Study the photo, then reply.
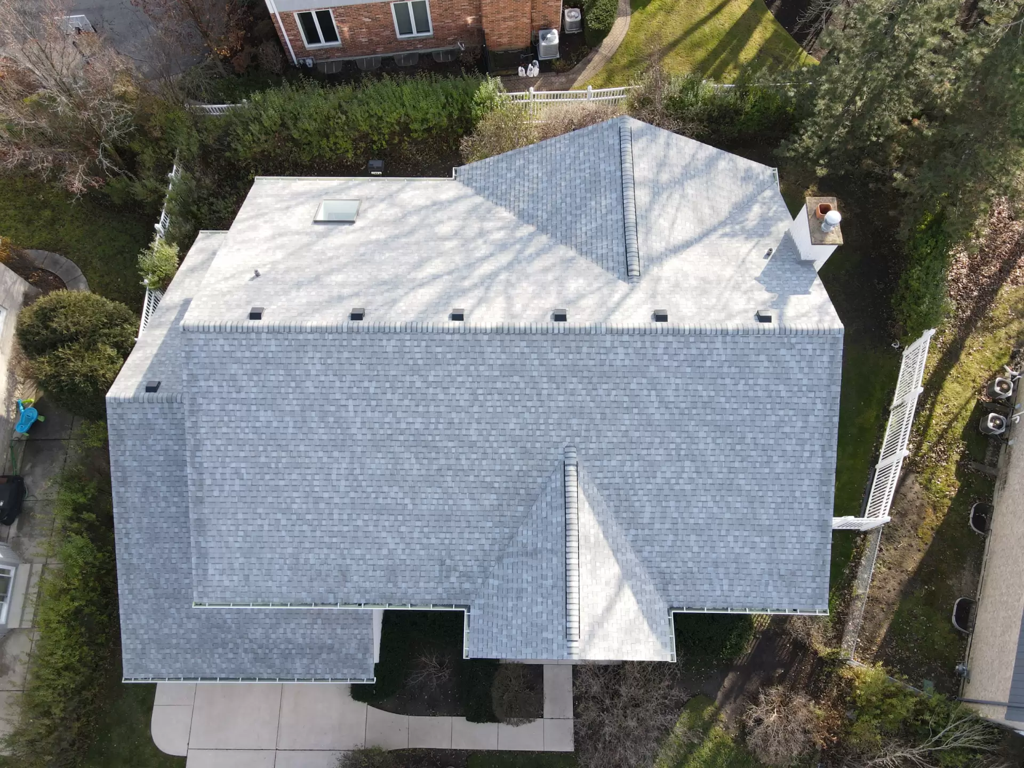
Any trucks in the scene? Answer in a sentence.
No, the frame has no truck in it.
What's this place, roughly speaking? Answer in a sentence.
What you see here is a residential area.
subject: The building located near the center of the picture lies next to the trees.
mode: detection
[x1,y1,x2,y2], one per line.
[105,117,846,685]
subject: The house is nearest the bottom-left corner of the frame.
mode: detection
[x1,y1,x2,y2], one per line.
[0,546,49,638]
